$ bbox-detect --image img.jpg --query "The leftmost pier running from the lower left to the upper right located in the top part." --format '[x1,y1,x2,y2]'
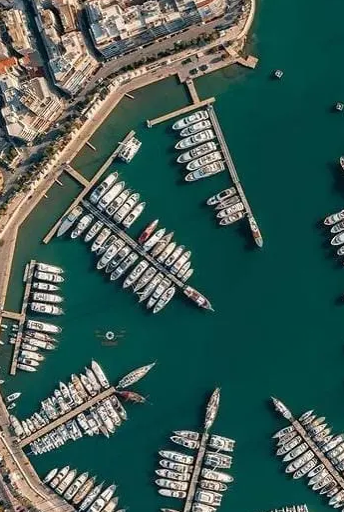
[43,133,133,244]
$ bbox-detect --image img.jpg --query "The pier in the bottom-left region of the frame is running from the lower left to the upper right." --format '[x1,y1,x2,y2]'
[18,387,116,448]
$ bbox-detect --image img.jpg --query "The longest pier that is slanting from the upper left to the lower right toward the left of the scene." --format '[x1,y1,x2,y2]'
[80,198,187,290]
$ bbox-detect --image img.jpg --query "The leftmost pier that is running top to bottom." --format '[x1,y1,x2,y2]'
[10,260,36,375]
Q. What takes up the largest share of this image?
water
